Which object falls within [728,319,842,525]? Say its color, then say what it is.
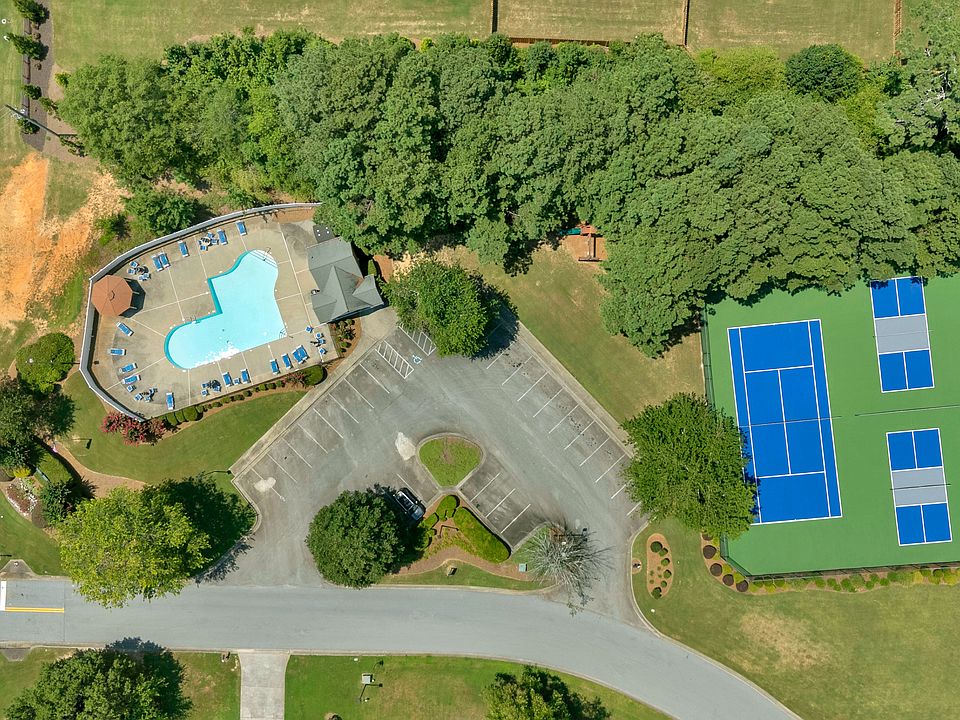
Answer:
blue tennis court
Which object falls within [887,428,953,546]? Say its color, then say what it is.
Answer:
blue sports court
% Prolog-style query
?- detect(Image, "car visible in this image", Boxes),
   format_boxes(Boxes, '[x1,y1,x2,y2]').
[392,488,426,523]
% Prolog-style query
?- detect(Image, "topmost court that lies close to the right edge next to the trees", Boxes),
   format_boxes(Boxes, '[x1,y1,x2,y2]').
[871,276,937,393]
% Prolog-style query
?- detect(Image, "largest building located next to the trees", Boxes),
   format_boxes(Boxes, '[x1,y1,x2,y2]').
[308,236,387,327]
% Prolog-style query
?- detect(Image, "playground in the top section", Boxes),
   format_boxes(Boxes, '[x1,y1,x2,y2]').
[564,218,603,261]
